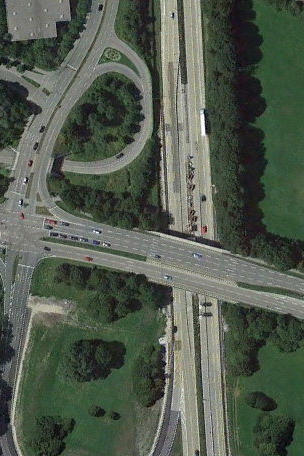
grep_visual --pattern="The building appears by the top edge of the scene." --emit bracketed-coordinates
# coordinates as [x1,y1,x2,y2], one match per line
[8,0,70,40]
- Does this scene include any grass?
Yes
